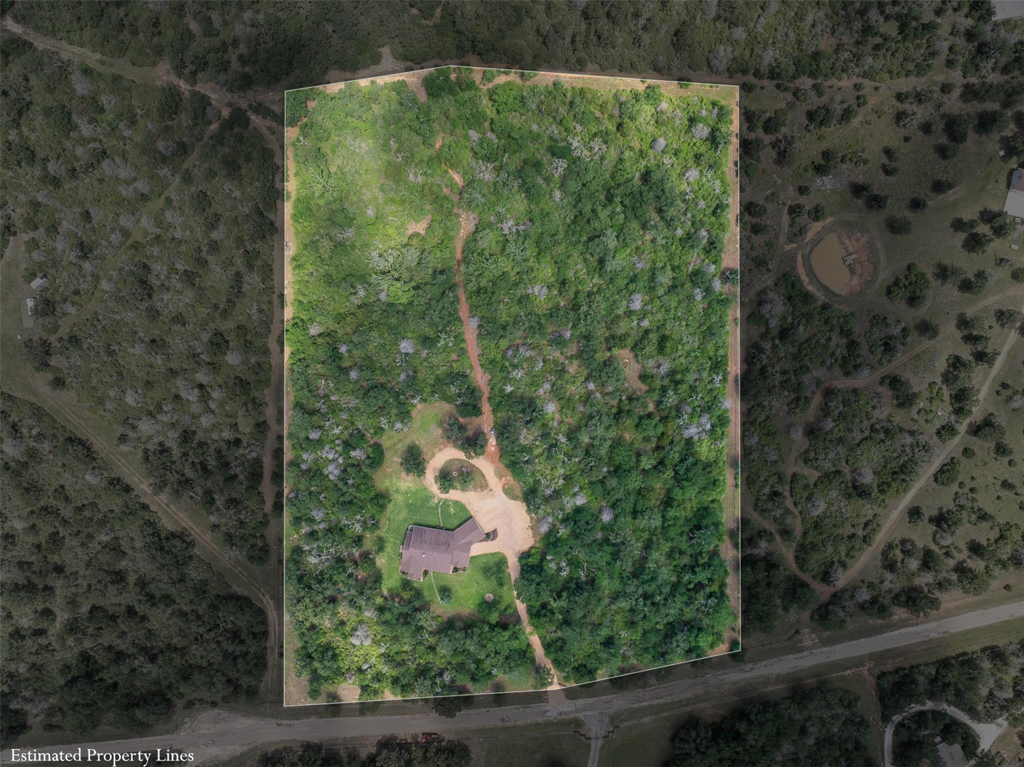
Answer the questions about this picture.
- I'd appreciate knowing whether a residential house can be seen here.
Yes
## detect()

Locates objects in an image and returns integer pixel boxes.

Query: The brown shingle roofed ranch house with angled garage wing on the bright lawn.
[400,517,486,581]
